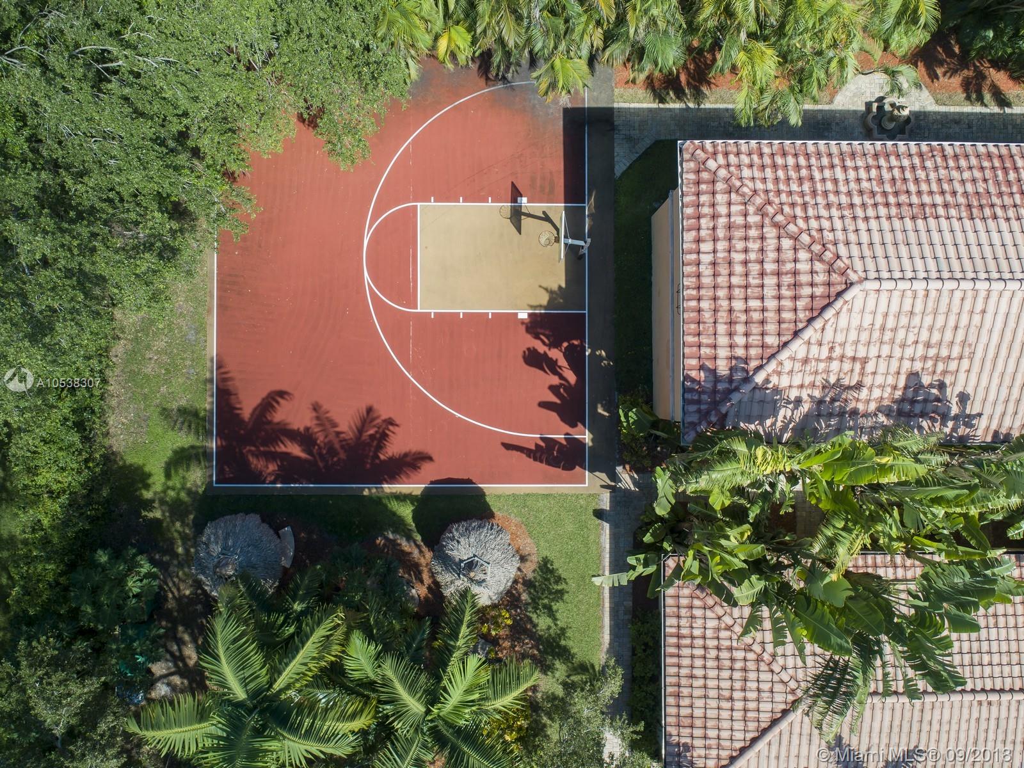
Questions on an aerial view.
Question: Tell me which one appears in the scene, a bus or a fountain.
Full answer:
It is a fountain that can be seen here.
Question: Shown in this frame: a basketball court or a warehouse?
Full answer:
This aerial view contains a basketball court.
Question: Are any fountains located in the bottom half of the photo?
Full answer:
No, no fountain appears in the bottom half of the photo.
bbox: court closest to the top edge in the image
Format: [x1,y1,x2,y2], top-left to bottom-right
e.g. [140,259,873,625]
[206,53,615,494]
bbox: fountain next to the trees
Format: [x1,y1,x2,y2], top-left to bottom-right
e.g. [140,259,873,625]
[855,89,920,140]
